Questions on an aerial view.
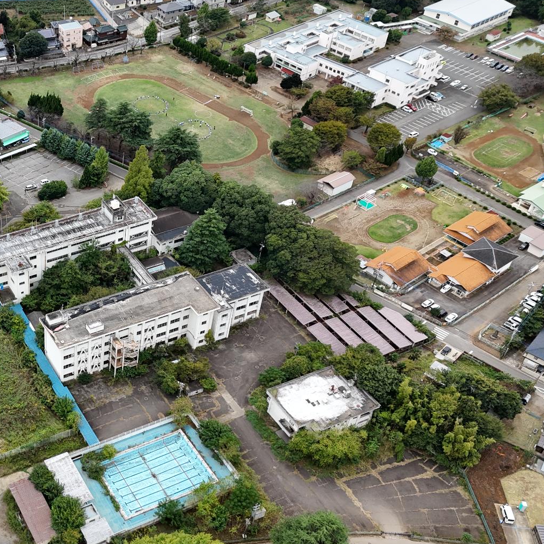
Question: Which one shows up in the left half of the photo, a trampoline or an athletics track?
athletics track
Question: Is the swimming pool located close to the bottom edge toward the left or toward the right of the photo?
left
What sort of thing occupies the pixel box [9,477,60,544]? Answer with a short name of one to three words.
shed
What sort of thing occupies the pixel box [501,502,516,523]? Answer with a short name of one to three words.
vehicle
